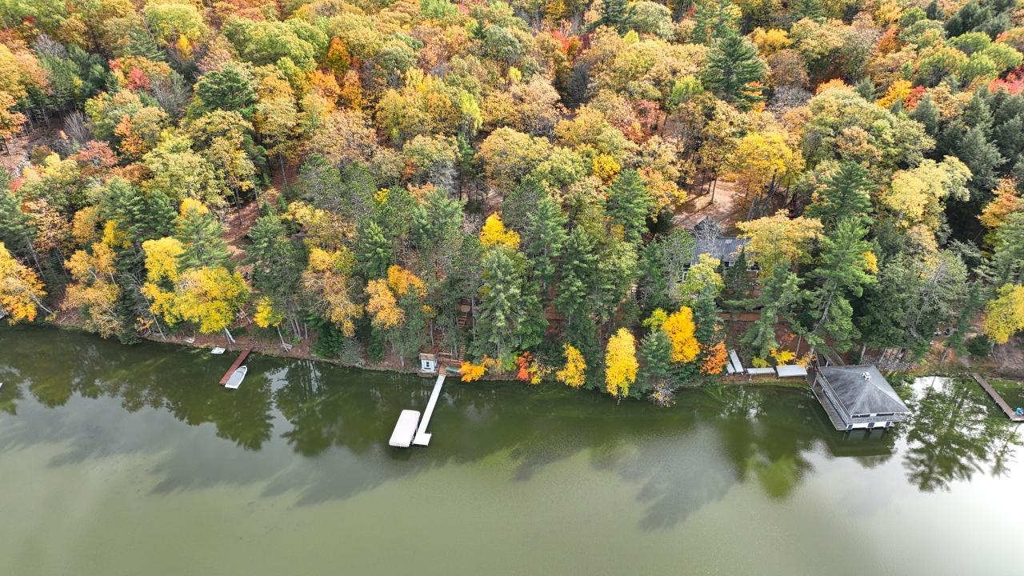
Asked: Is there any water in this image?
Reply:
Yes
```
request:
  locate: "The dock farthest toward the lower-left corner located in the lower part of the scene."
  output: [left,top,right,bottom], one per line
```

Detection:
[219,334,262,387]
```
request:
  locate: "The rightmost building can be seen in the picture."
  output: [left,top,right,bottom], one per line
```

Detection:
[793,350,913,442]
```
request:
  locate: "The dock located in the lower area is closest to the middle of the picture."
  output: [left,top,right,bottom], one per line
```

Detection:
[411,378,443,449]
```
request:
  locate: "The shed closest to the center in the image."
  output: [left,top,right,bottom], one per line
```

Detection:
[414,347,436,375]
